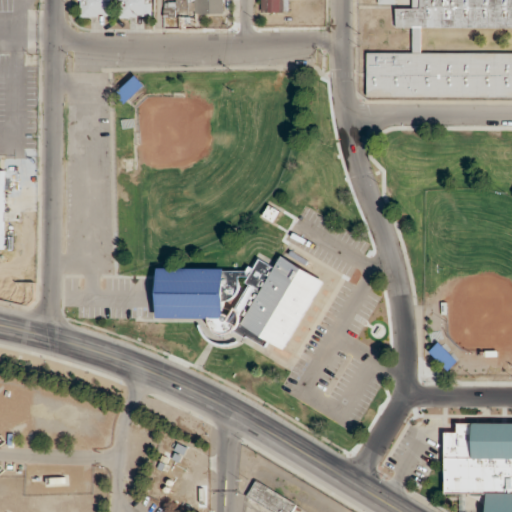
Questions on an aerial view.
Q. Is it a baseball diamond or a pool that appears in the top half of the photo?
baseball diamond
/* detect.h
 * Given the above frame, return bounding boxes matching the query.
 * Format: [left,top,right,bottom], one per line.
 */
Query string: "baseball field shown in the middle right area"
[426,190,512,353]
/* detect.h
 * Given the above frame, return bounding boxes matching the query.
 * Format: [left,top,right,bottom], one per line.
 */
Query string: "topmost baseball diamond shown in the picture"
[138,74,297,256]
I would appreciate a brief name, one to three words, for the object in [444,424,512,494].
building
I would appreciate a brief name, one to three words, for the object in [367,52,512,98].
building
